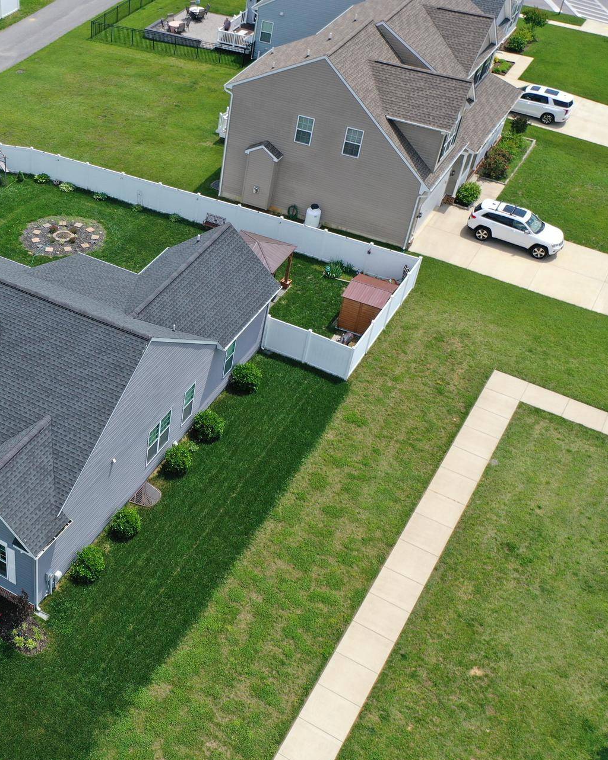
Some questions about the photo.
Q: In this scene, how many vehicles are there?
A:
two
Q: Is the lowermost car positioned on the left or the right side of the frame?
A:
right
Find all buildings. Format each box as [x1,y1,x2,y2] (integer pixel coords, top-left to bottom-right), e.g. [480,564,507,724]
[218,0,537,253]
[335,276,395,337]
[0,221,285,617]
